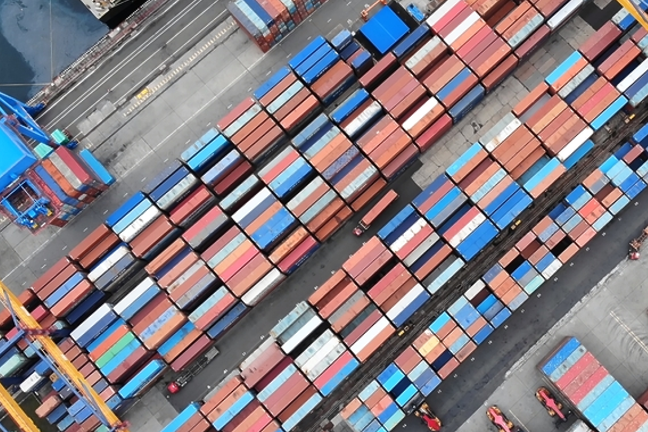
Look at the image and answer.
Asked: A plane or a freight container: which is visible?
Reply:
freight container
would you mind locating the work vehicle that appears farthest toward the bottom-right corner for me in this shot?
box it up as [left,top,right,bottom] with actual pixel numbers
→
[536,384,576,429]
